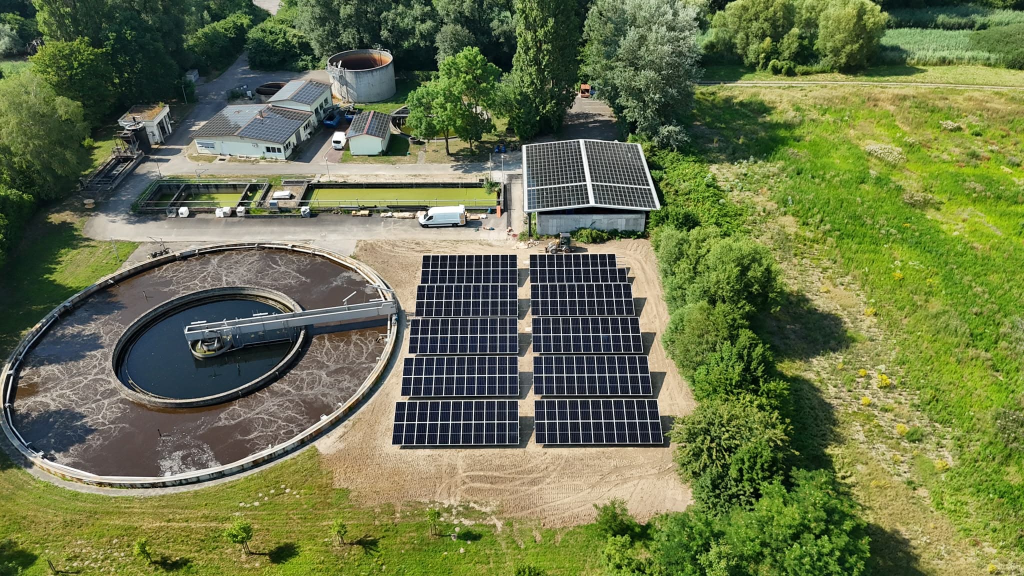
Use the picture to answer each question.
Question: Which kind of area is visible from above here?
industrial area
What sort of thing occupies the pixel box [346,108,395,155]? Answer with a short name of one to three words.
shed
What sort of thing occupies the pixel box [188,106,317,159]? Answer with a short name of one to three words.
building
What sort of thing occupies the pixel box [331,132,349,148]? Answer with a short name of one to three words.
vehicle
